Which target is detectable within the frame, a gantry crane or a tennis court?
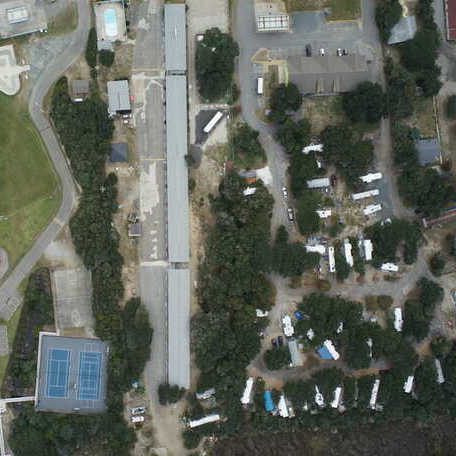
tennis court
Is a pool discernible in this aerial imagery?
Yes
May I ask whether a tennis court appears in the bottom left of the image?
Yes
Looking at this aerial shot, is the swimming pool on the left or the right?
left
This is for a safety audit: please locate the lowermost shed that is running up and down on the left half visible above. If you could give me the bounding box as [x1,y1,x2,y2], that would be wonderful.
[169,269,190,387]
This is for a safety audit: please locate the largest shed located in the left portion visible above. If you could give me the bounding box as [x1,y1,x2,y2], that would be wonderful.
[166,75,189,262]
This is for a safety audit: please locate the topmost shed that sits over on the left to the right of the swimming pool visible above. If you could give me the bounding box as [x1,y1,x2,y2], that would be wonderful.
[166,4,185,71]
